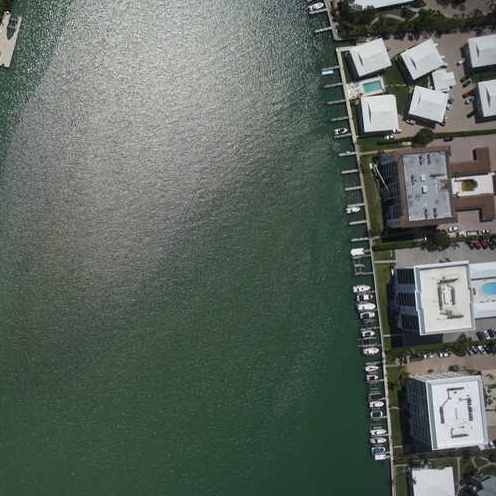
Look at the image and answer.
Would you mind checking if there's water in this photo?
Yes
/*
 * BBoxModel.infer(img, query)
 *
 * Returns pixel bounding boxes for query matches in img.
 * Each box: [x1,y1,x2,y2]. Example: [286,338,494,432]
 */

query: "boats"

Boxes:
[351,285,371,292]
[368,429,387,435]
[369,411,383,418]
[307,3,324,10]
[368,401,384,407]
[356,294,373,300]
[373,454,390,461]
[345,207,360,212]
[356,303,376,310]
[364,375,379,380]
[360,330,375,338]
[362,348,379,355]
[318,69,334,75]
[370,446,386,453]
[368,438,386,444]
[332,127,349,134]
[364,366,379,371]
[349,248,364,255]
[359,312,375,319]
